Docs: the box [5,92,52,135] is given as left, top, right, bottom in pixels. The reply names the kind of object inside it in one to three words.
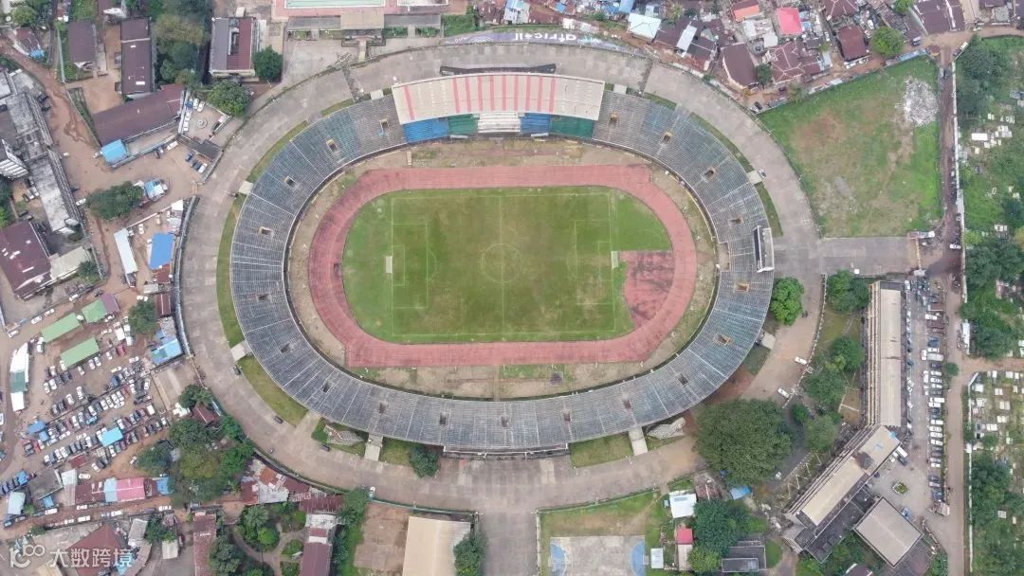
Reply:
building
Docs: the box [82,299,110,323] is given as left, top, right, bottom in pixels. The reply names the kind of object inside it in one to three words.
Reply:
building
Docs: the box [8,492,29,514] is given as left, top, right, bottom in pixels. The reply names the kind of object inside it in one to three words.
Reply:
shed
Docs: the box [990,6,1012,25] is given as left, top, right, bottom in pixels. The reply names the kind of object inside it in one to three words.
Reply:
house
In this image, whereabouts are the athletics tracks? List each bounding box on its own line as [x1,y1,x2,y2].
[309,165,697,367]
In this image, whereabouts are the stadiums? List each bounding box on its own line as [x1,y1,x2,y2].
[230,63,775,461]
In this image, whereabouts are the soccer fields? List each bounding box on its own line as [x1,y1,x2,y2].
[342,186,672,344]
